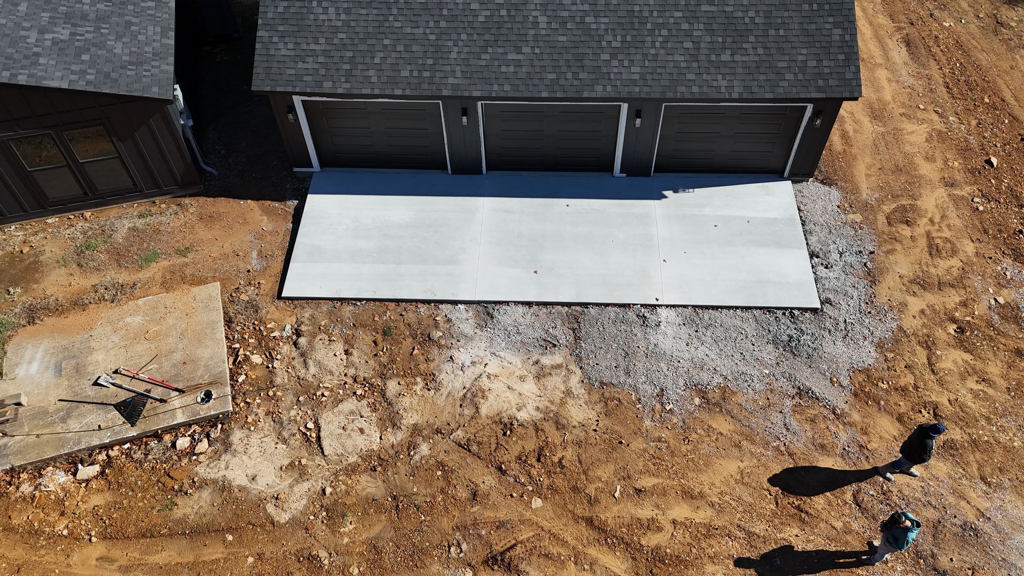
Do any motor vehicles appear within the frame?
No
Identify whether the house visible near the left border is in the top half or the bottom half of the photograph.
top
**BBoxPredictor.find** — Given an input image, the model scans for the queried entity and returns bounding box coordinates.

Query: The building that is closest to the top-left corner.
[0,0,241,228]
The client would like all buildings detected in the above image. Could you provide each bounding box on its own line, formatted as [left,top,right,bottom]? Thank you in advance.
[251,0,861,181]
[0,0,241,228]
